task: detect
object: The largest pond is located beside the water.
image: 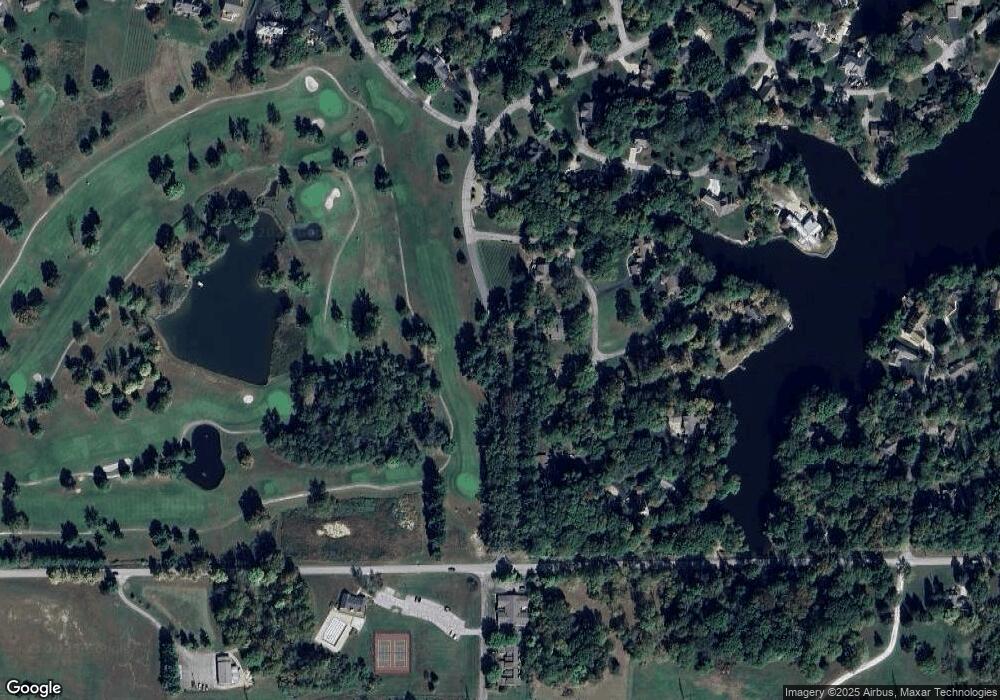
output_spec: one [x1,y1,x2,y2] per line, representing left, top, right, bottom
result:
[156,210,281,386]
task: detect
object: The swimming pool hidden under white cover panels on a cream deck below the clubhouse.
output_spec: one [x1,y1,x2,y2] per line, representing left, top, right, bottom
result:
[314,607,365,651]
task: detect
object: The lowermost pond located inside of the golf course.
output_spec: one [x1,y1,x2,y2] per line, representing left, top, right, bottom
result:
[181,423,226,489]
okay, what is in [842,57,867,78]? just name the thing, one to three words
house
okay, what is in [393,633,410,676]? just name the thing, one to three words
tennis court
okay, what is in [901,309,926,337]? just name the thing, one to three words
house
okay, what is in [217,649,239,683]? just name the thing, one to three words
building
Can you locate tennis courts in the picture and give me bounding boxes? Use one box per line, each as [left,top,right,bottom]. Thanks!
[375,633,393,676]
[393,633,410,676]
